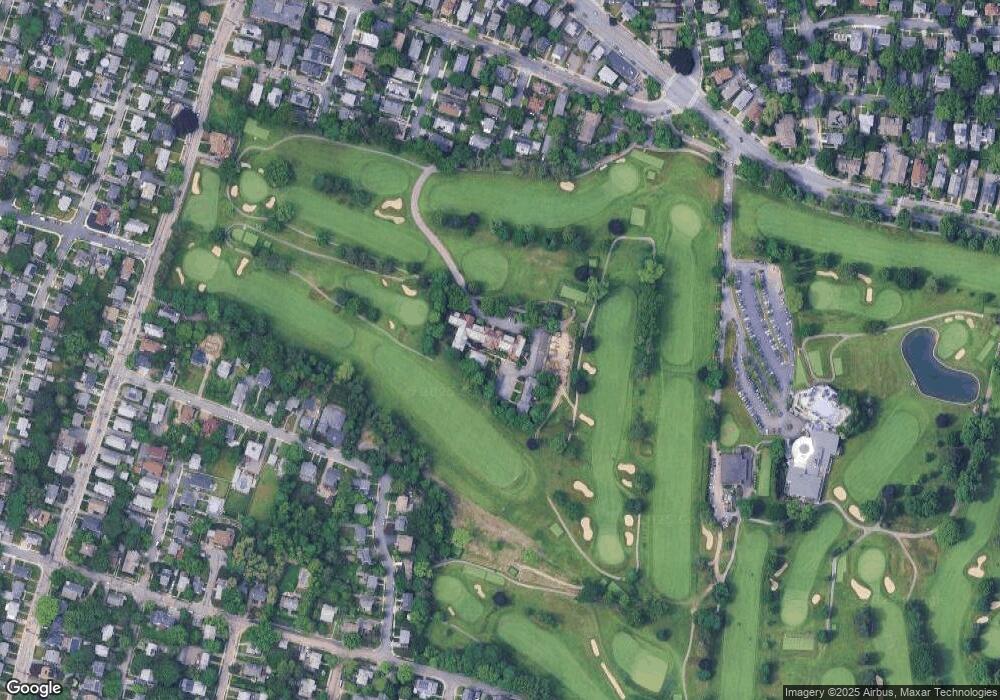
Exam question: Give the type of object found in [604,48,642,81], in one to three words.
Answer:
building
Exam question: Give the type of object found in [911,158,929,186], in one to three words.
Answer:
house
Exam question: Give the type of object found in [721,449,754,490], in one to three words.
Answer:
shed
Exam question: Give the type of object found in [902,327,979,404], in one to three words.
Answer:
pond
